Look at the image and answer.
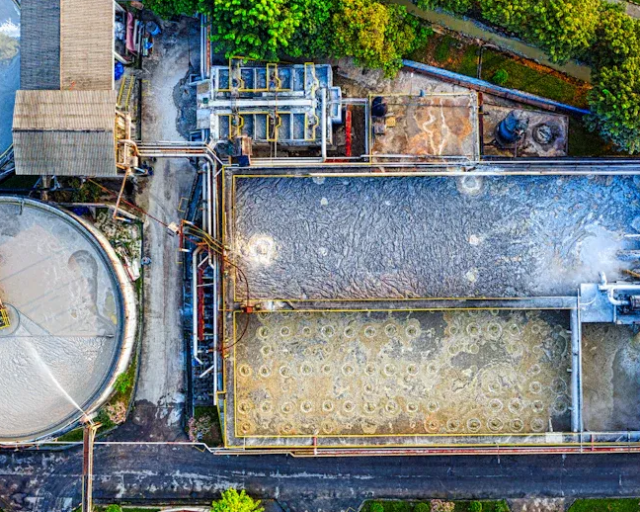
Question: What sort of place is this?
industrial area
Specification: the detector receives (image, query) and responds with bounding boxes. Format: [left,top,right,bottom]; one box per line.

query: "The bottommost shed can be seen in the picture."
[12,92,137,178]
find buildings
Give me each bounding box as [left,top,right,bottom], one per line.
[12,92,137,178]
[21,0,132,96]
